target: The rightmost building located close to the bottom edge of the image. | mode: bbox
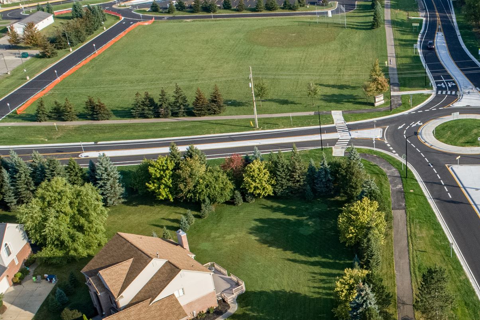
[70,230,219,320]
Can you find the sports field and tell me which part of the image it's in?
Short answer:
top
